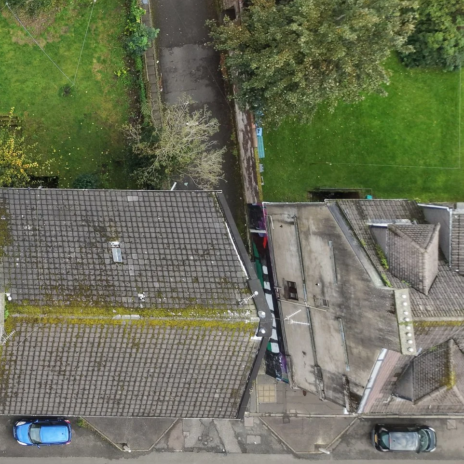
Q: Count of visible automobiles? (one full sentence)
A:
The picture shows 2 automobiles.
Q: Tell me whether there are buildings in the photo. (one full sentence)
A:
Yes, the picture does show a building.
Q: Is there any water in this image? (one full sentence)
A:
No, water can't be seen anywhere here.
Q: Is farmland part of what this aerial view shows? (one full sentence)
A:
No, there's no farmland in this view.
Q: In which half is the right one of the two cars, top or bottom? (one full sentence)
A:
Seen from above, the right one of the two cars lies in the bottom half of the view.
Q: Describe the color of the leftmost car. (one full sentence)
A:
From above, the leftmost car appears blue.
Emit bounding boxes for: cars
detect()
[13,418,71,450]
[369,422,432,457]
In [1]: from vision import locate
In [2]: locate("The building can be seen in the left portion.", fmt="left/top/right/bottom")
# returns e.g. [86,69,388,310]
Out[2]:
[0,187,272,422]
